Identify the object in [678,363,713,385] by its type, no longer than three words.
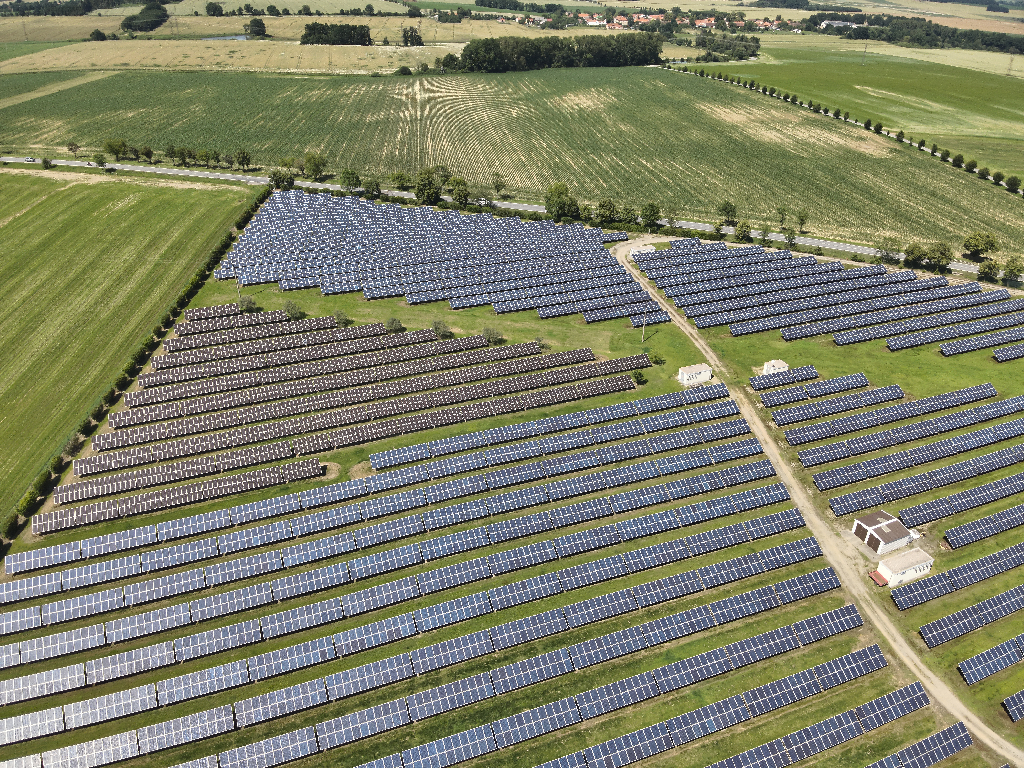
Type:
building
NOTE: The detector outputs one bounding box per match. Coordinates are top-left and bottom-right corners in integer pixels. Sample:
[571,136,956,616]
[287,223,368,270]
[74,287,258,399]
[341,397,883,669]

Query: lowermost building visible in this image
[876,546,937,588]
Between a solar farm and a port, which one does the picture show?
solar farm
